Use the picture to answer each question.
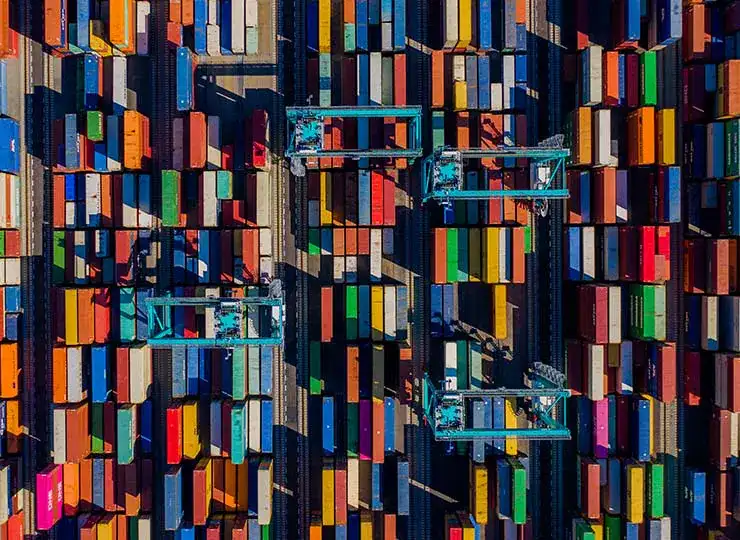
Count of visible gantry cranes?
4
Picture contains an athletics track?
No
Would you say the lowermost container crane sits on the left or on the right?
right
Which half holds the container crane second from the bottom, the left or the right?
left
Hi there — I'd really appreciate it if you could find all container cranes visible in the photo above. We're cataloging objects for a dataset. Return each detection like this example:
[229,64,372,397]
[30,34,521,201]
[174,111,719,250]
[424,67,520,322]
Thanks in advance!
[286,103,423,184]
[423,359,572,442]
[145,278,285,353]
[423,134,570,218]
